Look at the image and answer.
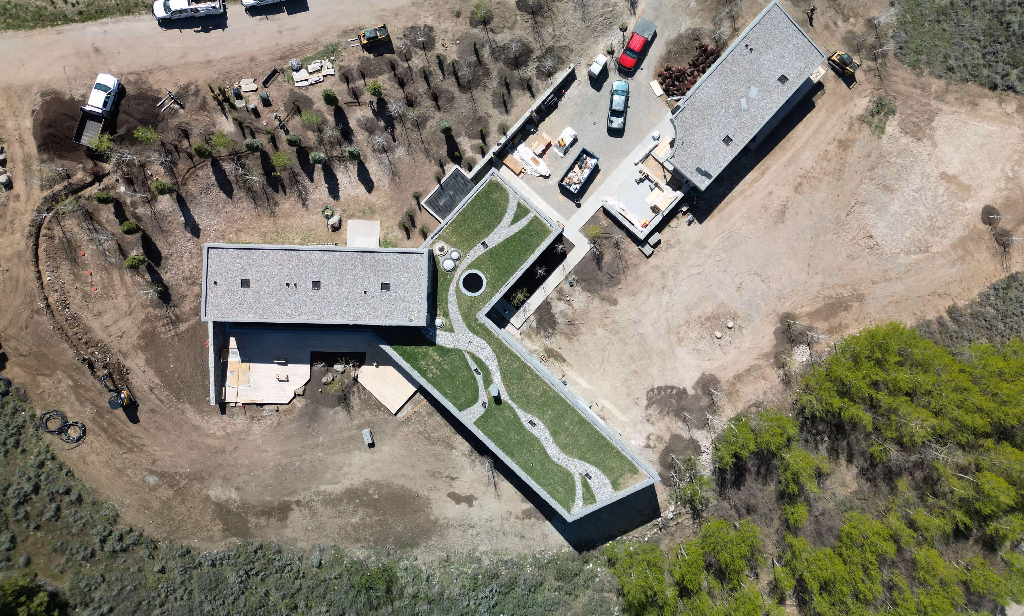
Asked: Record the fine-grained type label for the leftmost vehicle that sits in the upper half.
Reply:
truck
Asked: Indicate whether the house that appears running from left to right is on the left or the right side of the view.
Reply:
left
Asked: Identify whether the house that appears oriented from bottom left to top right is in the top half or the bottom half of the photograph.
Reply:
top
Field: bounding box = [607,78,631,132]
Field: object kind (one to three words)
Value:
truck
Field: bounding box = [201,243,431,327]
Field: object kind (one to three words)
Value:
house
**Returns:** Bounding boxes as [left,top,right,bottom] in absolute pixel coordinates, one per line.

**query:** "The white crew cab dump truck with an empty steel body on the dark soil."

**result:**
[71,73,123,148]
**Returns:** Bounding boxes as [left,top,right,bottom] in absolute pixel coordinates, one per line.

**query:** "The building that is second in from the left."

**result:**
[371,168,660,523]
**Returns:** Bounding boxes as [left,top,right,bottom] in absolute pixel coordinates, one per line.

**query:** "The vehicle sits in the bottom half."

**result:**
[104,374,144,419]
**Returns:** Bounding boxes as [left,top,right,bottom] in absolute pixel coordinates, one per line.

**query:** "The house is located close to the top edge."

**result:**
[665,0,827,191]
